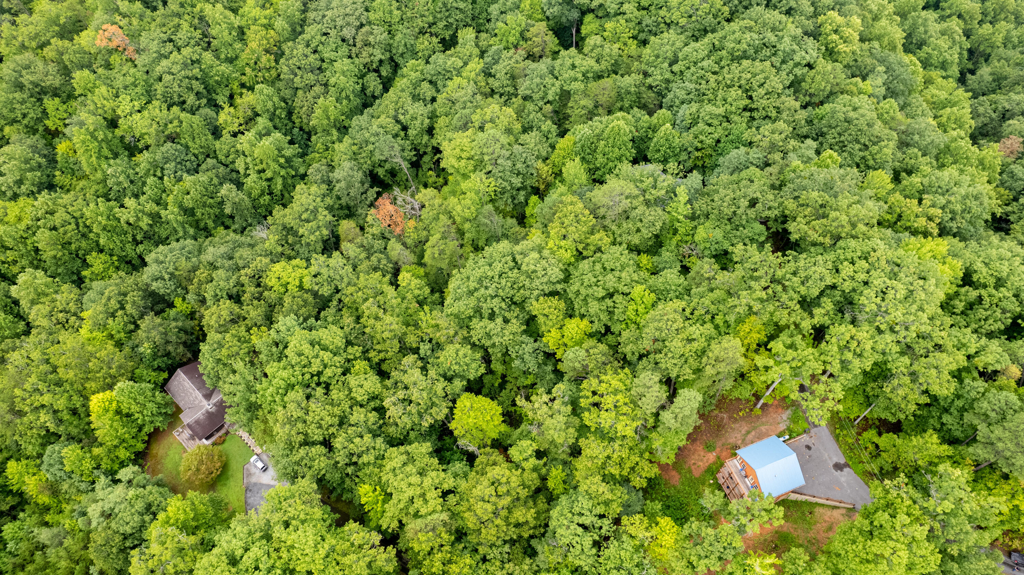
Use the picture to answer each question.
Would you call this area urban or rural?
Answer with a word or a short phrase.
rural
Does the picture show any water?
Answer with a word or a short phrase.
No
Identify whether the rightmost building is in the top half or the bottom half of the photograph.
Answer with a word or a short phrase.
bottom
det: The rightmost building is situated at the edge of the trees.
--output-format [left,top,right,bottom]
[712,435,806,508]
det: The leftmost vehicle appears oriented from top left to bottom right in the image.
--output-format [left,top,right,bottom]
[251,456,267,472]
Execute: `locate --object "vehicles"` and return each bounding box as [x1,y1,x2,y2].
[1013,554,1024,565]
[251,456,267,472]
